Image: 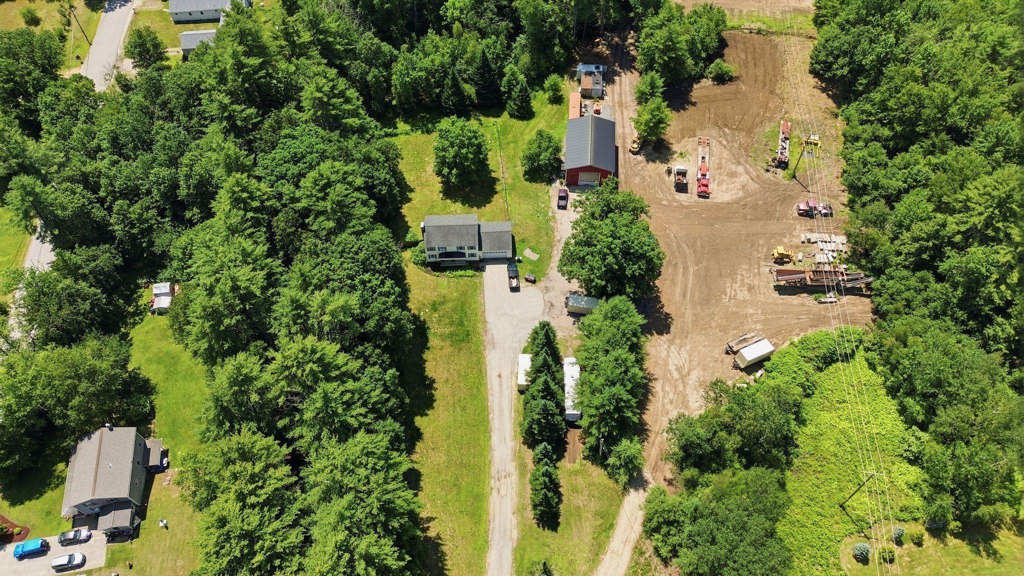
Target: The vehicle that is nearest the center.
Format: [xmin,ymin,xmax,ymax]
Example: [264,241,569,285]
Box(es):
[507,262,520,289]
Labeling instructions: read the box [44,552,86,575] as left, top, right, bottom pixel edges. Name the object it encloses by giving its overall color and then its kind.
white car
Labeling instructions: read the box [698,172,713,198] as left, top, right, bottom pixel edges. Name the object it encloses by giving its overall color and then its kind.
red vehicle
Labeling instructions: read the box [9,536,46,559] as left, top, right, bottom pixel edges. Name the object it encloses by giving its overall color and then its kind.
blue car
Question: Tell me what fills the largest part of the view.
trees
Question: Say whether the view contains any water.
No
